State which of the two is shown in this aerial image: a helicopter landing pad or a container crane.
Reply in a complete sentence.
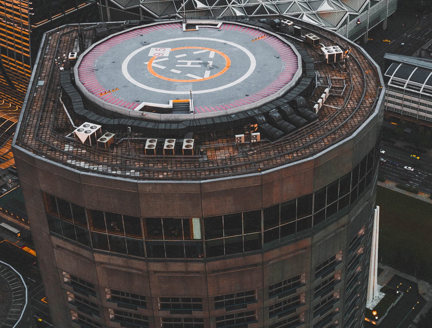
There is a helicopter landing pad in the scene.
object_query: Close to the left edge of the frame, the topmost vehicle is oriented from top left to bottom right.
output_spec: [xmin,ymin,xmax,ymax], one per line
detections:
[0,219,19,235]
